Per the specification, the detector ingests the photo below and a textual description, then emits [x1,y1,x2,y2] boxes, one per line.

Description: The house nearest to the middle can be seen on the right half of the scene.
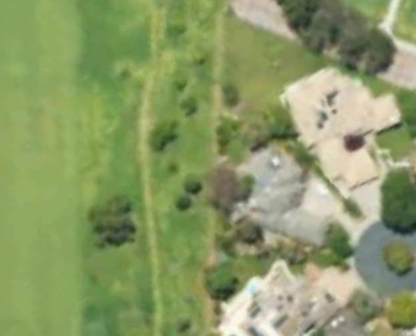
[239,149,332,245]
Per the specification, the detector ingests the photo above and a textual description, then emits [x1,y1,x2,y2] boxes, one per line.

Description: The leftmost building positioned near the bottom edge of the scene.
[245,263,345,336]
